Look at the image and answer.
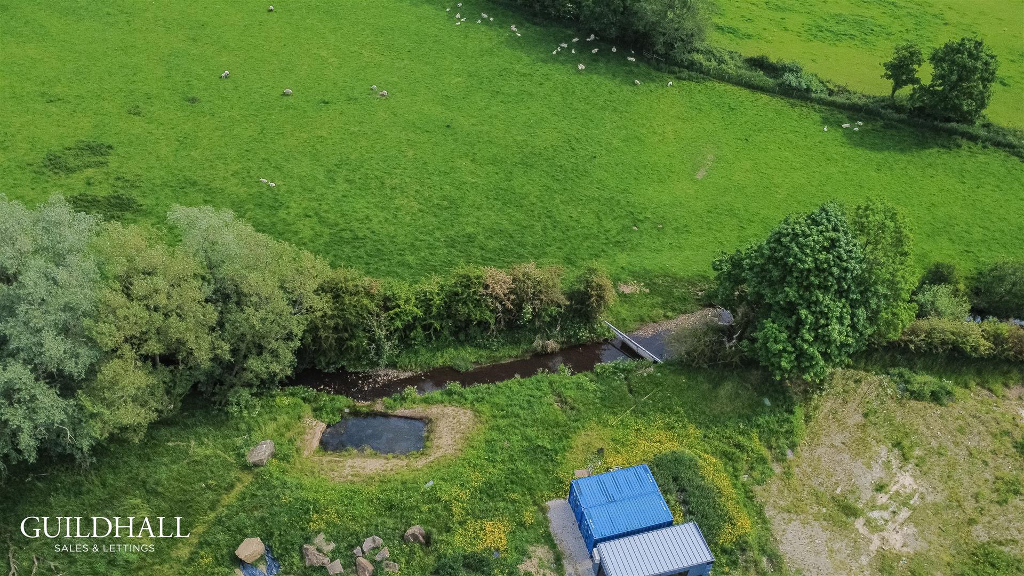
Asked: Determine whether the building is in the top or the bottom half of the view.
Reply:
bottom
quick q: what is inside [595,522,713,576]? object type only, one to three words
building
